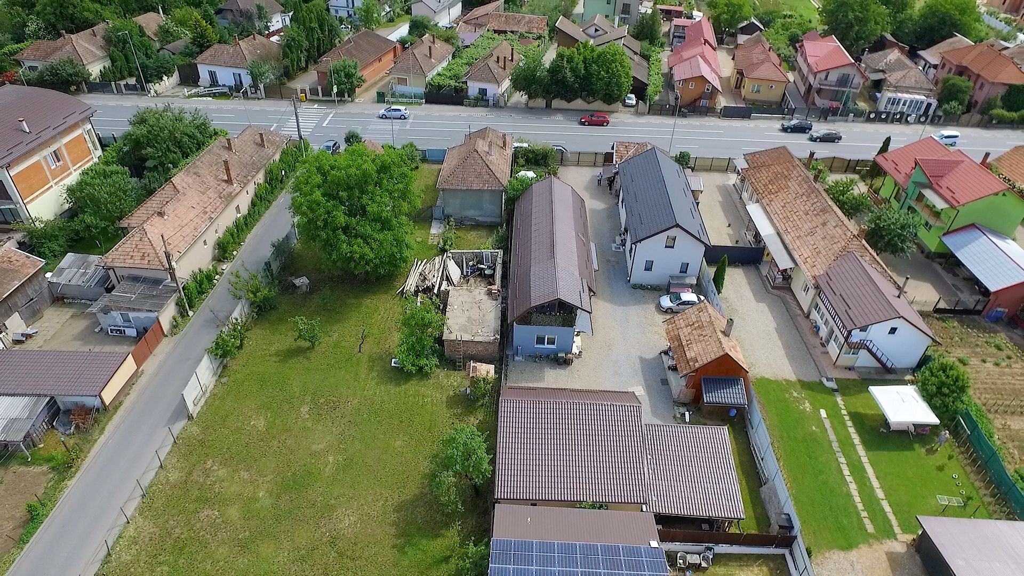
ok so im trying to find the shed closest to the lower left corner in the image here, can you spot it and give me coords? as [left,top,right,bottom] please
[0,396,57,455]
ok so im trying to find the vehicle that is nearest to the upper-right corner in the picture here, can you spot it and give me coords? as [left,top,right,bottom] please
[929,128,969,145]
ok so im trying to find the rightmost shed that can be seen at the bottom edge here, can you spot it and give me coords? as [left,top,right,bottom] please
[911,516,1024,576]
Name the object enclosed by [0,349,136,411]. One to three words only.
building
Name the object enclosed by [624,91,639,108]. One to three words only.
car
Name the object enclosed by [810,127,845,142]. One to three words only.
car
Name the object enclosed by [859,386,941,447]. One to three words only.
gazebo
